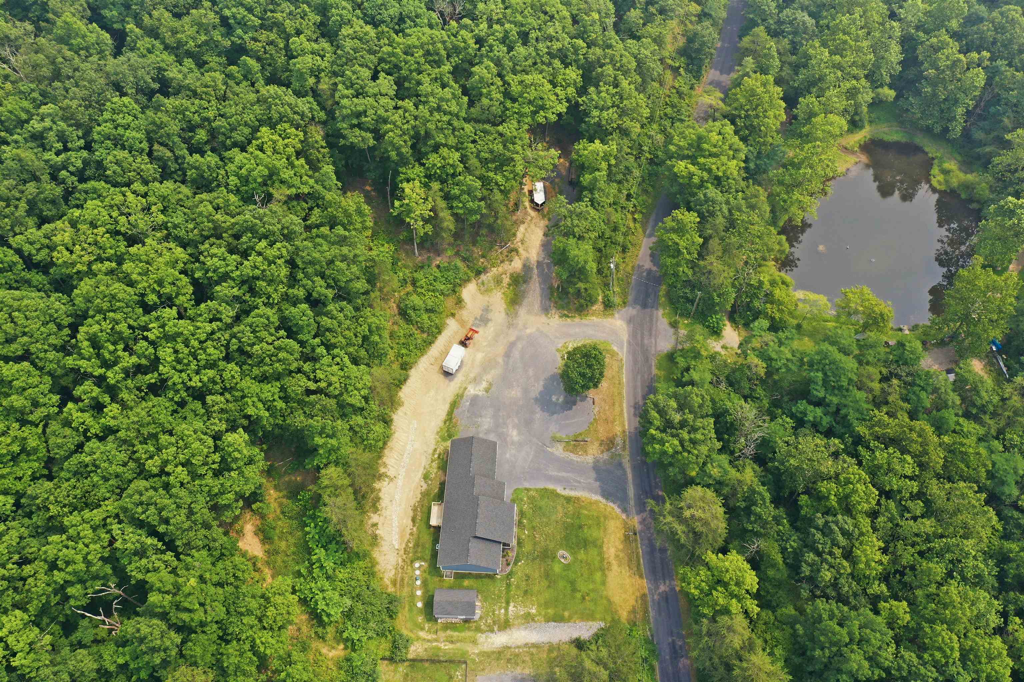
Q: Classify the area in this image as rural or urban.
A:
rural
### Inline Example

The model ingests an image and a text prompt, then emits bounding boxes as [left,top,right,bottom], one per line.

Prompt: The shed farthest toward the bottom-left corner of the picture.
[433,590,482,619]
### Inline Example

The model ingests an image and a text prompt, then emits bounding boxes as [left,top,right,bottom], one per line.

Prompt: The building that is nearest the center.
[431,437,515,582]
